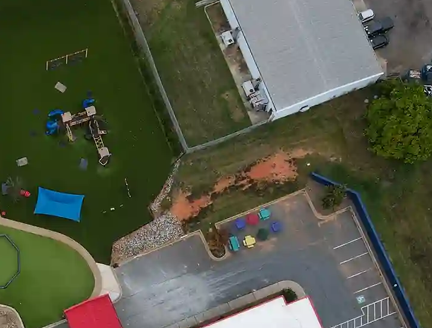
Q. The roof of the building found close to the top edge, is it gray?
Yes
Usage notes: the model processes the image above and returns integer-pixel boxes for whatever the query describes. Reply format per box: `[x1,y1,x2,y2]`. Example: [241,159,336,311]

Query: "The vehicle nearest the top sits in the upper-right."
[358,6,379,23]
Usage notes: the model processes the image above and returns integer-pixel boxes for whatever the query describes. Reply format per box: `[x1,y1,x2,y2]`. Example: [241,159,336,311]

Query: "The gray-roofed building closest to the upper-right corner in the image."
[218,0,383,119]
